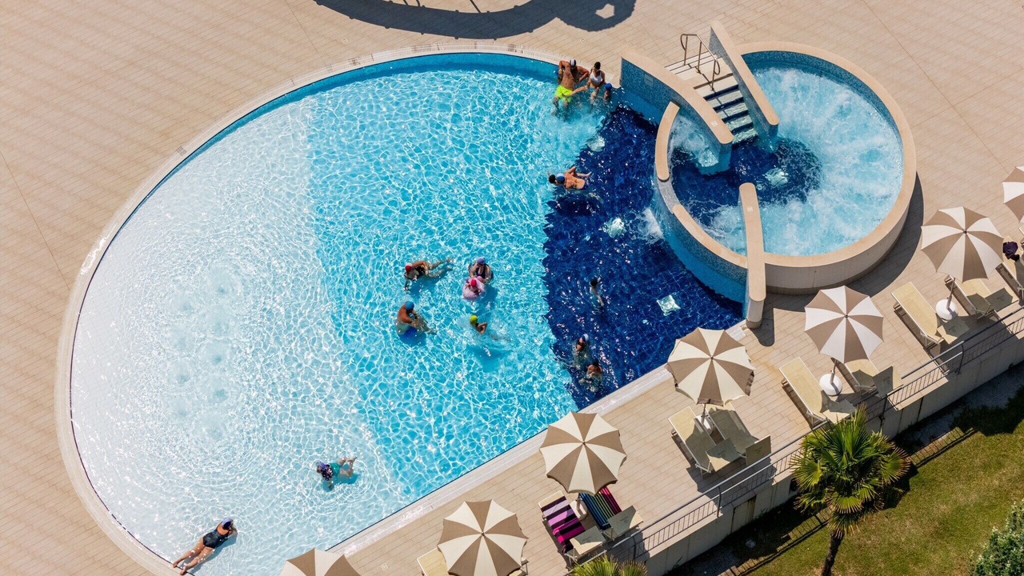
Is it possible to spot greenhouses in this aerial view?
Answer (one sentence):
No, I find no greenhouse anywhere in the image.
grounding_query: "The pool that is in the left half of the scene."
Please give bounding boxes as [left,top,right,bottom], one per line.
[53,40,757,576]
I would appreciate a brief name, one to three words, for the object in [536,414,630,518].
umbrella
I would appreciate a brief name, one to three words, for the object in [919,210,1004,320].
umbrella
